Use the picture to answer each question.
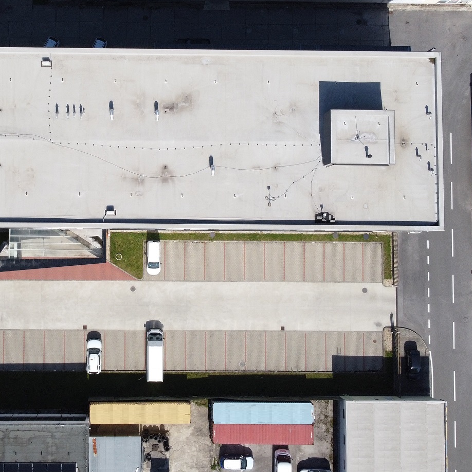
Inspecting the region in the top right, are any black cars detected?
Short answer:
No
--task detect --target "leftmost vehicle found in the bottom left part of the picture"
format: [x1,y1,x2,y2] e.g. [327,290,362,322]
[85,337,102,376]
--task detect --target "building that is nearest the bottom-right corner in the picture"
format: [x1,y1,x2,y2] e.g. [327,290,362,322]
[335,394,449,472]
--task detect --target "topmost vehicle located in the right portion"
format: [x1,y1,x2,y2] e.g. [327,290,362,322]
[404,347,423,380]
